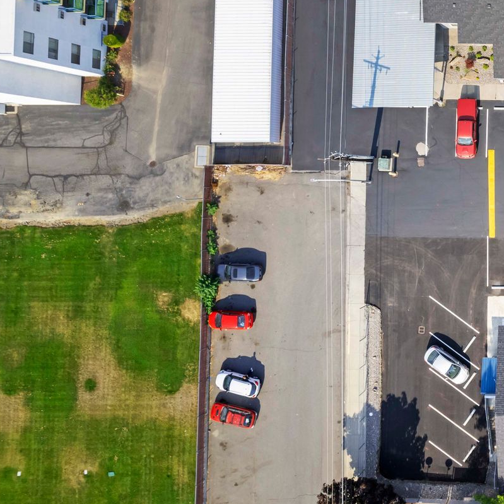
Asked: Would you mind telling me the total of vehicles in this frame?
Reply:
6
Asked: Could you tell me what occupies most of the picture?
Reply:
paved ground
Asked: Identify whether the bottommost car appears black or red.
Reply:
red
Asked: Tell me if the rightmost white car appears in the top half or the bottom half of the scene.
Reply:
bottom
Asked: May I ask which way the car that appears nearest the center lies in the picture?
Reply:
from side to side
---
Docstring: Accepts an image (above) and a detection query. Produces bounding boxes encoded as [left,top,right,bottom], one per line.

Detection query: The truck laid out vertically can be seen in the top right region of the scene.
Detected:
[453,97,479,159]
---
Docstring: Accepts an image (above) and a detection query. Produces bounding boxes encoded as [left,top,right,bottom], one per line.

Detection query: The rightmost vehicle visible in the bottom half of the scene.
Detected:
[424,344,471,385]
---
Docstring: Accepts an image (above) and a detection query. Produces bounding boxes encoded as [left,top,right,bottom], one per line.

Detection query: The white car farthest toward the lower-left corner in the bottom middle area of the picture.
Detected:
[215,369,264,399]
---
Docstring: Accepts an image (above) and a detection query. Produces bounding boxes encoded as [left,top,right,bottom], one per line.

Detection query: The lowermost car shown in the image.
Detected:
[211,400,260,429]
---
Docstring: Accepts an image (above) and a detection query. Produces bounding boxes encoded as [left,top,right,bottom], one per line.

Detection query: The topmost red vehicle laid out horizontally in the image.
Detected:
[208,309,258,334]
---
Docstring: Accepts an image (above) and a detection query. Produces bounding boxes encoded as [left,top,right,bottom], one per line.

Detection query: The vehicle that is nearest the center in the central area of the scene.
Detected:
[218,260,266,285]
